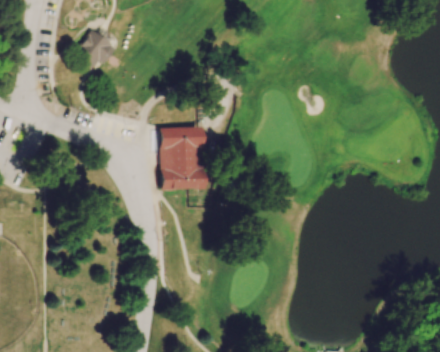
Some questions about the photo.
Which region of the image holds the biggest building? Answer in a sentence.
You can find the biggest building in the center area of the picture.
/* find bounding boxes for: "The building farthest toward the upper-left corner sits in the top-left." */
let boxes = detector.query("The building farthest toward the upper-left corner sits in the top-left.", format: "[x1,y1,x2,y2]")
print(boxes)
[78,30,115,69]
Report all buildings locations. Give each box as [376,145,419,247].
[78,30,115,69]
[160,126,209,190]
